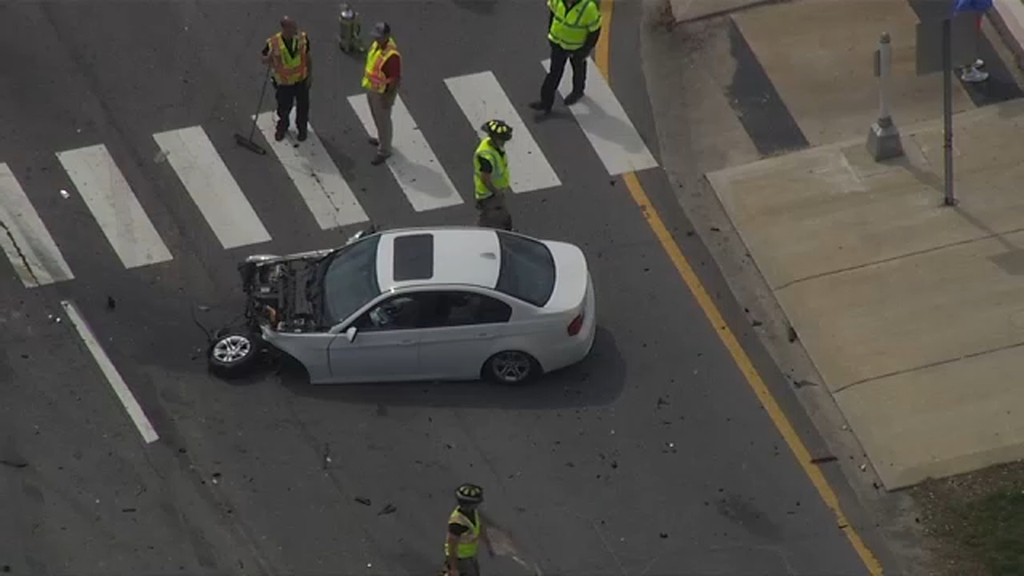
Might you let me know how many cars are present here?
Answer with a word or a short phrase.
one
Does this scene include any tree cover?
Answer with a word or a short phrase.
No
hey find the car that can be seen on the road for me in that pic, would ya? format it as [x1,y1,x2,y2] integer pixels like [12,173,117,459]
[203,226,596,386]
